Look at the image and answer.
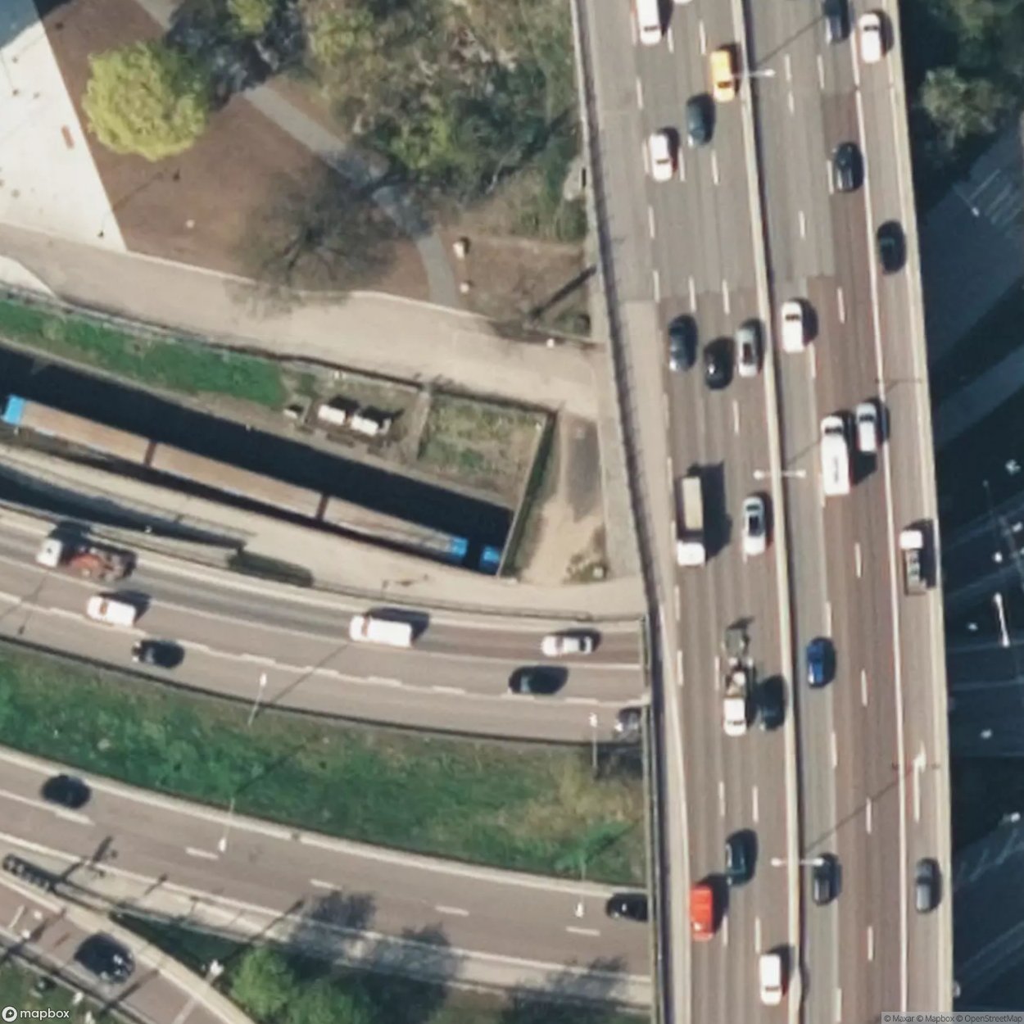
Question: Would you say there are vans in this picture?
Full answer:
Yes, there's a van here.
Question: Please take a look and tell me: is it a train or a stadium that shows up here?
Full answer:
The image shows a train.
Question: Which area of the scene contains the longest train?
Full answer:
The longest train is located in the left region of the scene.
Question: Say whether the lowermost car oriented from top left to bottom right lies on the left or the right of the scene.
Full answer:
The lowermost car oriented from top left to bottom right appears in the left half of the scene.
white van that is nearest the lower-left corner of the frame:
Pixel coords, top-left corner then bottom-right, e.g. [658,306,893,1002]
[86,595,139,626]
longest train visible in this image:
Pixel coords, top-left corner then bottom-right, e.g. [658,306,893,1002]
[1,398,470,563]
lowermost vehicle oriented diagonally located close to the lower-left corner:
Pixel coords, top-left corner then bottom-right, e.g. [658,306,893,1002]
[77,938,130,980]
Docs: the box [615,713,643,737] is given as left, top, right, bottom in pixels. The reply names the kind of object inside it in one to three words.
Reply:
car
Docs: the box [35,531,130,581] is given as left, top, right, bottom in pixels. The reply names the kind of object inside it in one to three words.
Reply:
truck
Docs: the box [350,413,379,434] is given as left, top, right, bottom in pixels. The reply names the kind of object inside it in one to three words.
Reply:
shed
